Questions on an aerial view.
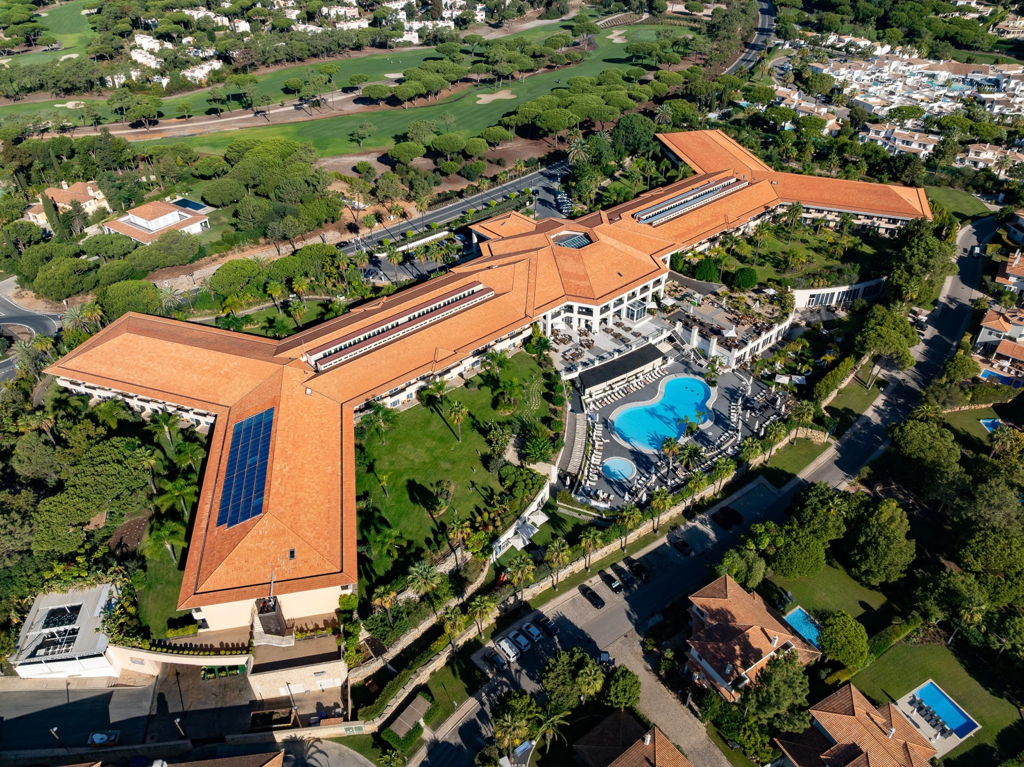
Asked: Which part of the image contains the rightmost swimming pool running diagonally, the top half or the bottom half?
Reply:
bottom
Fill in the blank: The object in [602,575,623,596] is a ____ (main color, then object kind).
black car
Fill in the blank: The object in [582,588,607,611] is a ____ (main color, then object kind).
black car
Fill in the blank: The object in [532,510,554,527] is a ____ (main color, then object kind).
white umbrella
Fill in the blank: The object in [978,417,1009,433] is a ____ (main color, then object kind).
blue swimming pool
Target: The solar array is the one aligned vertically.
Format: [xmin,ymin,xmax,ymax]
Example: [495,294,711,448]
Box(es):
[216,406,274,529]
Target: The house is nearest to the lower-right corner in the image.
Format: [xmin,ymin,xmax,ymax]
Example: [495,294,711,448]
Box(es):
[774,682,943,767]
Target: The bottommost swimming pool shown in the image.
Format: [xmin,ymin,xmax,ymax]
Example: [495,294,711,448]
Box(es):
[911,677,985,743]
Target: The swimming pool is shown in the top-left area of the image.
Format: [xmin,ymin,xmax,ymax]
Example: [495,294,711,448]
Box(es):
[168,195,214,213]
